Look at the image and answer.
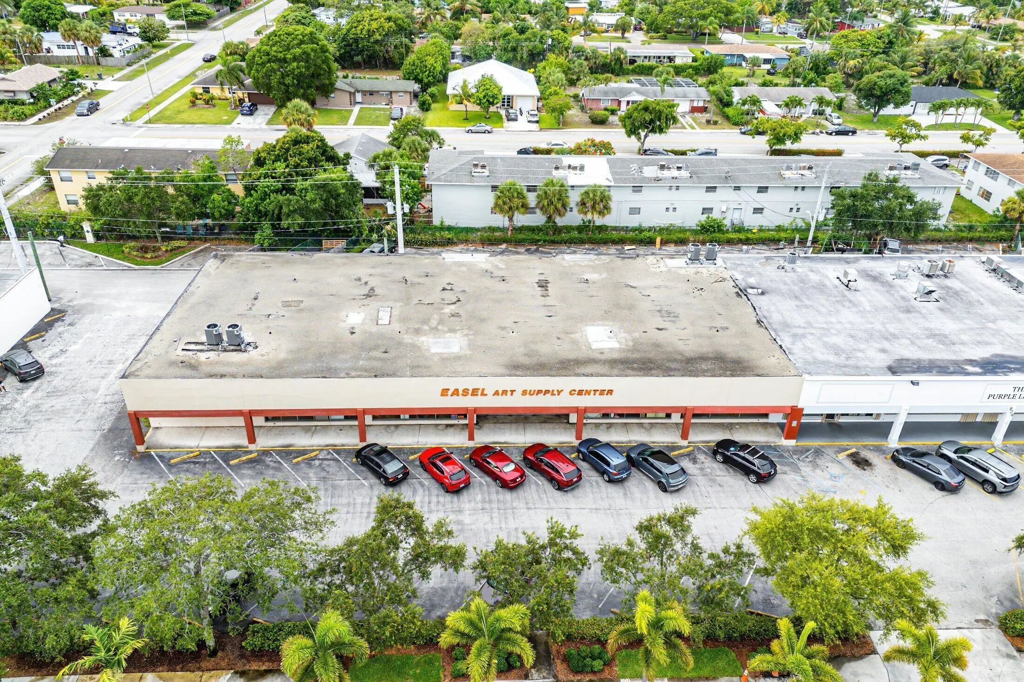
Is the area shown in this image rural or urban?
urban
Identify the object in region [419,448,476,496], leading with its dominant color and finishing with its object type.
red car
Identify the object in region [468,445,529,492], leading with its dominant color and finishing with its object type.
red car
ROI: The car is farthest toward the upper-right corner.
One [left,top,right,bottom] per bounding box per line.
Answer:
[927,154,962,168]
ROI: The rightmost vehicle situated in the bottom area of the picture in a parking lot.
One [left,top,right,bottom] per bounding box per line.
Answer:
[940,442,1023,497]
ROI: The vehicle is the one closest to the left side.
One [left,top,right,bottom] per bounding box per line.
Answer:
[0,351,45,383]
